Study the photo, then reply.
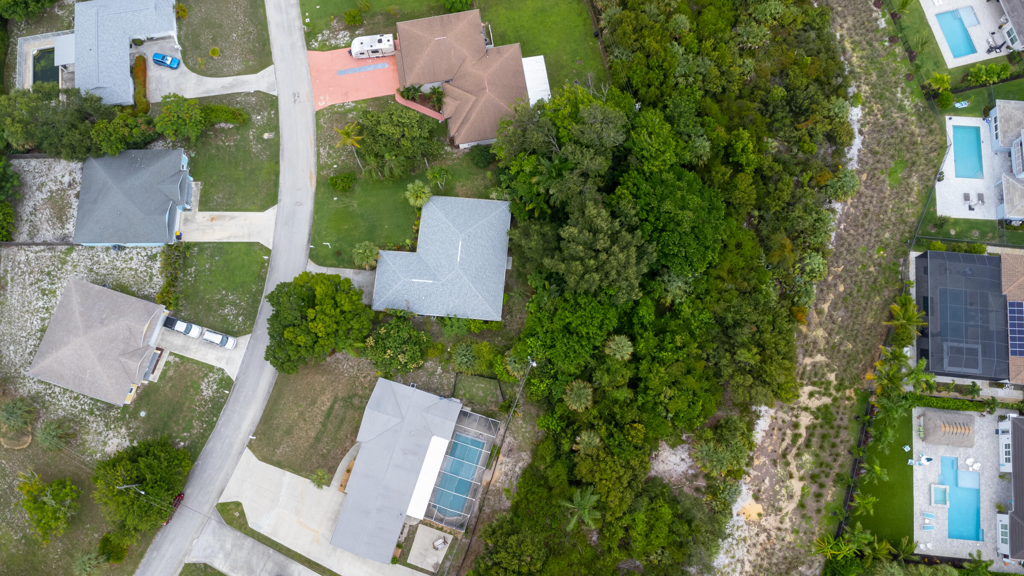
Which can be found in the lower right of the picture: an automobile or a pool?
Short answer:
pool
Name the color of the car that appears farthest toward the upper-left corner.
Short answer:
blue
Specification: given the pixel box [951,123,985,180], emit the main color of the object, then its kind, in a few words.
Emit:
blue swimming pool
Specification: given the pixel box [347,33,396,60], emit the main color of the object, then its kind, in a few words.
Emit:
white camper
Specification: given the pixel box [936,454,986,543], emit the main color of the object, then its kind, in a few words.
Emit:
blue swimming pool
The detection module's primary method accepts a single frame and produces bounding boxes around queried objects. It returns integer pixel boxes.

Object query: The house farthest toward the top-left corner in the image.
[44,0,182,110]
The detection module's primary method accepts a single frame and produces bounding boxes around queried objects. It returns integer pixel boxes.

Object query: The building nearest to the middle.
[372,196,511,321]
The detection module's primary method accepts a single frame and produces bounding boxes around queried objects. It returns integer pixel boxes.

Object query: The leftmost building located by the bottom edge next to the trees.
[330,378,463,564]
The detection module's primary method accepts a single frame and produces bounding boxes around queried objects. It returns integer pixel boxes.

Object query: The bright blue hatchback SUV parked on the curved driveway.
[150,50,181,71]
